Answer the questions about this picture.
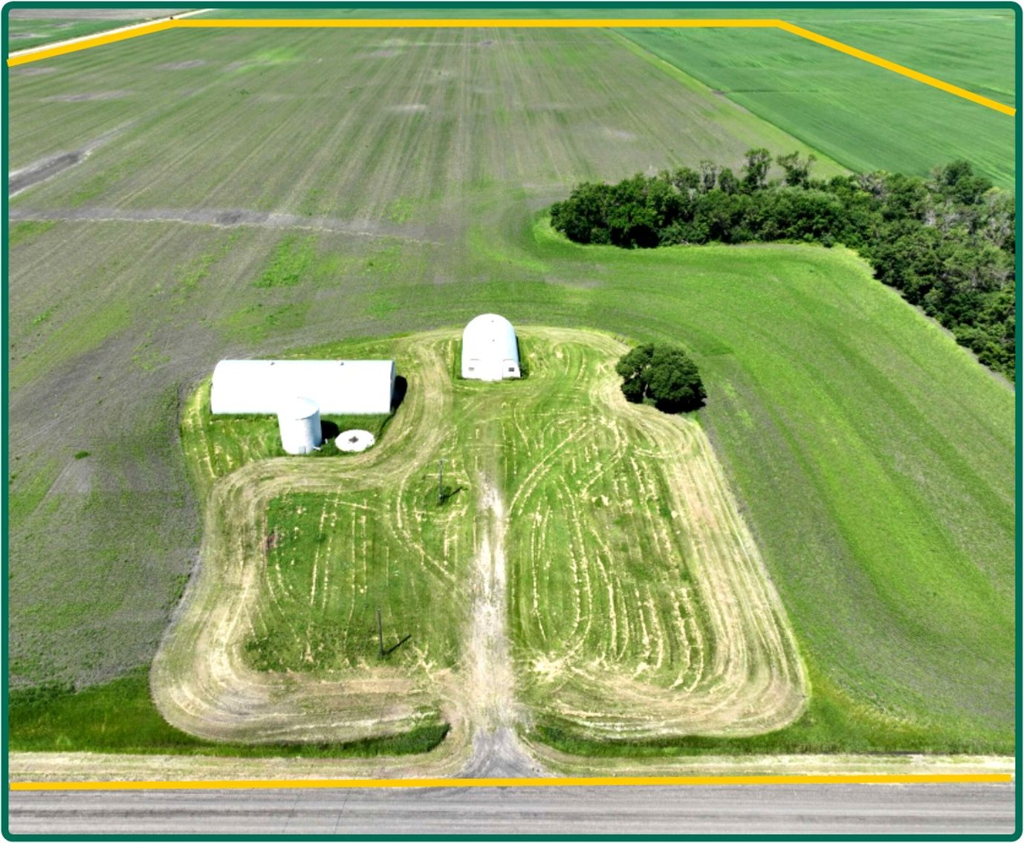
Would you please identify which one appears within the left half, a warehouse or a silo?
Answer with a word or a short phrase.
silo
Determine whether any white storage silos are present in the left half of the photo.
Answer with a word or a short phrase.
Yes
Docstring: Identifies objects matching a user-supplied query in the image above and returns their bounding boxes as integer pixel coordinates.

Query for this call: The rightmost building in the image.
[462,313,520,381]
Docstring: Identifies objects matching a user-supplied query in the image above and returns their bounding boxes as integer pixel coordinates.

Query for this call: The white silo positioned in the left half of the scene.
[274,397,322,454]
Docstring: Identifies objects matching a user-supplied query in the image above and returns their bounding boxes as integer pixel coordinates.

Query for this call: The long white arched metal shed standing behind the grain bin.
[210,361,401,414]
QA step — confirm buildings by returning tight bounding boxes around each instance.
[210,361,401,414]
[462,313,520,381]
